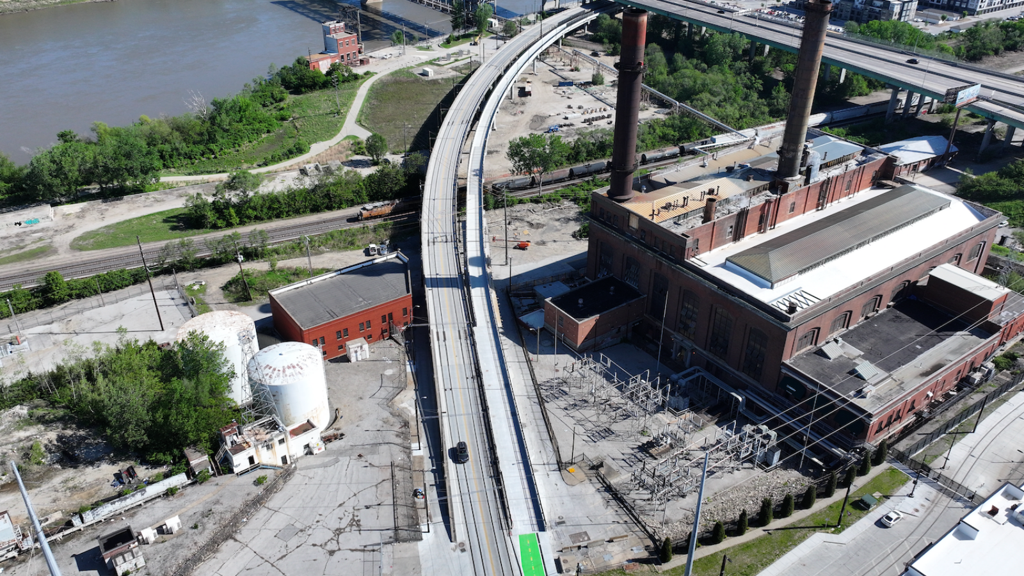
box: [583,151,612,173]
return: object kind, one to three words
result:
rail car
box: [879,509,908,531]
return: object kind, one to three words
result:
car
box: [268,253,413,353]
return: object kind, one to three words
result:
building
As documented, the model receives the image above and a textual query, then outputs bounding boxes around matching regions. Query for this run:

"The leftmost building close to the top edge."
[308,19,377,68]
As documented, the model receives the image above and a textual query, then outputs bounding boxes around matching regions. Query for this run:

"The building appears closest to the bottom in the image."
[899,479,1024,576]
